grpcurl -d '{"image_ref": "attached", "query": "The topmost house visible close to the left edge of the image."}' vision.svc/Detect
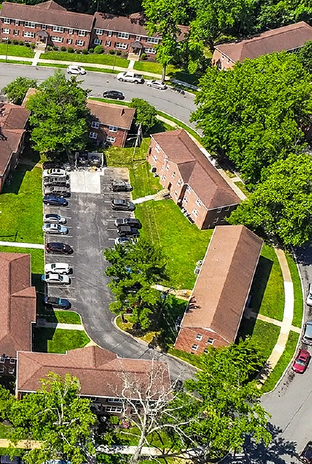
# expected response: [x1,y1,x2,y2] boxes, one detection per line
[0,1,96,50]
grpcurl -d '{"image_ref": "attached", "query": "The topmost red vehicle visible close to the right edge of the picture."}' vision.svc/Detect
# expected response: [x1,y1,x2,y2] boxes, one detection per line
[292,350,310,374]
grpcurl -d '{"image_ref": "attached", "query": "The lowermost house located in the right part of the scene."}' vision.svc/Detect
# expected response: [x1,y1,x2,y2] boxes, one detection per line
[176,226,264,357]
